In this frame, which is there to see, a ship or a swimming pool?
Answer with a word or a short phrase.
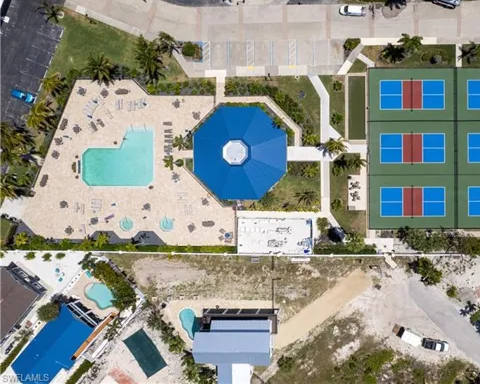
swimming pool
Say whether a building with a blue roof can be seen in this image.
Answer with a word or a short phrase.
Yes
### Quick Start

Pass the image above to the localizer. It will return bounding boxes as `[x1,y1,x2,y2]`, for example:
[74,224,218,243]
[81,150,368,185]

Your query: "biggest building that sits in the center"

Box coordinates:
[193,106,287,199]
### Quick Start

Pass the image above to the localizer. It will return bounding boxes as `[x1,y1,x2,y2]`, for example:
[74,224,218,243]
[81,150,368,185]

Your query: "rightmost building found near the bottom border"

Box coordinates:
[193,309,278,384]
